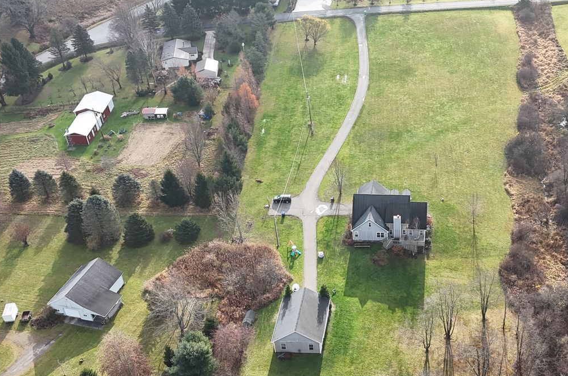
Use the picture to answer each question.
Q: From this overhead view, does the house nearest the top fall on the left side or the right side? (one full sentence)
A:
The house nearest the top sits on the left side.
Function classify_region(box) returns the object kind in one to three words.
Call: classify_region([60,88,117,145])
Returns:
barn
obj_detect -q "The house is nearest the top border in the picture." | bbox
[162,38,198,68]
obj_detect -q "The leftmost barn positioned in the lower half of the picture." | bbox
[48,257,126,322]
